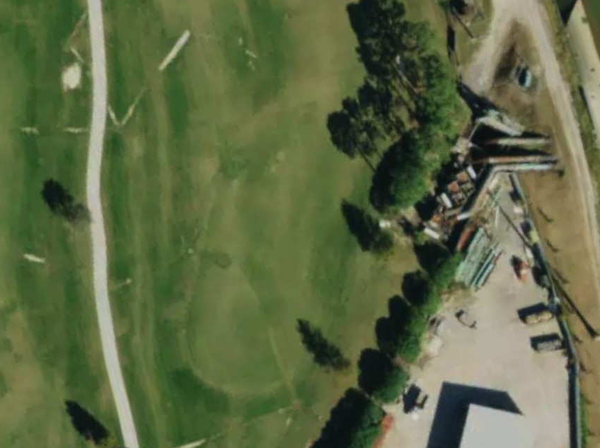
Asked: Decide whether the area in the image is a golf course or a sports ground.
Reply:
golf course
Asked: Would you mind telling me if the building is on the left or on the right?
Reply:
right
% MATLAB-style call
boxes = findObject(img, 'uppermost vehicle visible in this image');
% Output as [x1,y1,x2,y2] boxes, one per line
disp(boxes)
[514,257,527,278]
